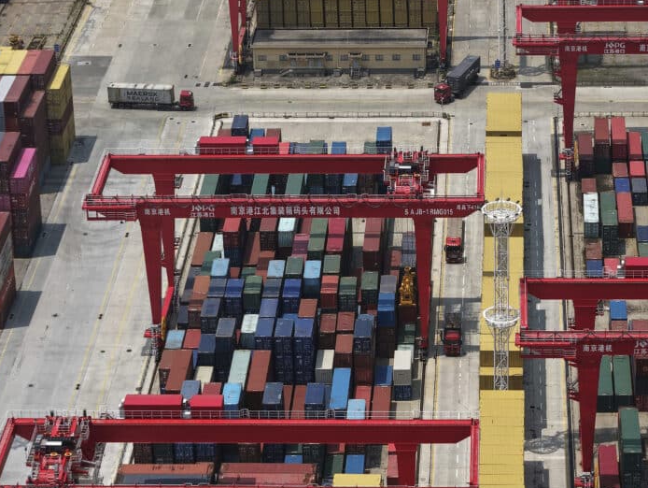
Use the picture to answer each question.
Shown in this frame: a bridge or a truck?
truck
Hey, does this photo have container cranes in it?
Yes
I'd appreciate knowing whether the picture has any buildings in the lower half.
No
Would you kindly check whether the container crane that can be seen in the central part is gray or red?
red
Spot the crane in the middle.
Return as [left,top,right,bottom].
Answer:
[82,133,490,355]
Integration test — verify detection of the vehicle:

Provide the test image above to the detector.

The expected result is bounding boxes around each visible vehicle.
[104,86,196,106]
[447,219,465,254]
[436,65,483,101]
[443,297,464,352]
